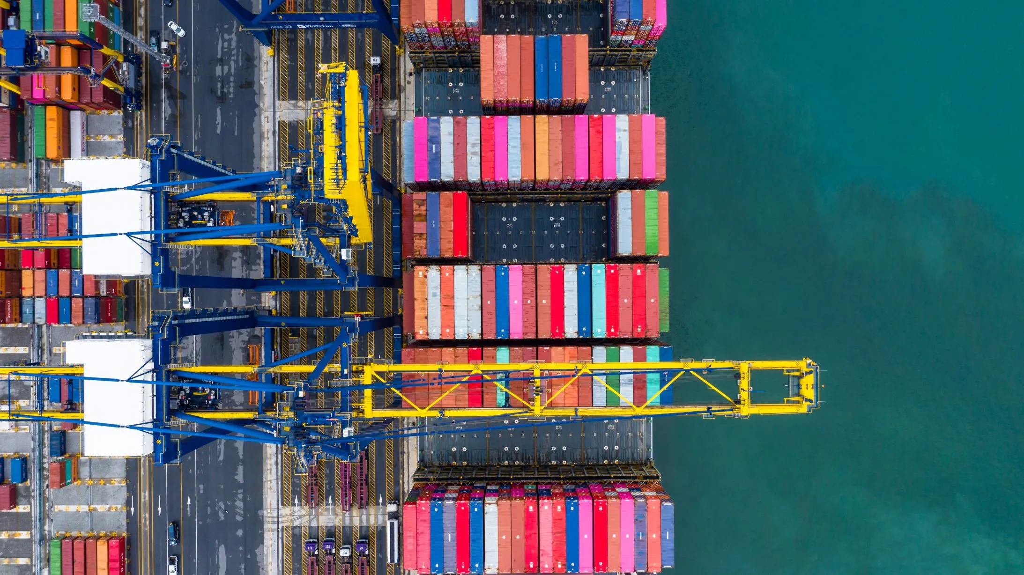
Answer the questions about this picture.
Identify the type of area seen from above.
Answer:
port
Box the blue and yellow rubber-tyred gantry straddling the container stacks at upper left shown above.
[0,28,133,106]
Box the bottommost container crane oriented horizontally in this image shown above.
[0,291,826,493]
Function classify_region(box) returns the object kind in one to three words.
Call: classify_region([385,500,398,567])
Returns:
vehicle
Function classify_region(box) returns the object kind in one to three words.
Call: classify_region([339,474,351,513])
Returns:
vehicle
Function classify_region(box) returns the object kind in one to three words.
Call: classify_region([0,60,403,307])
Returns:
container crane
